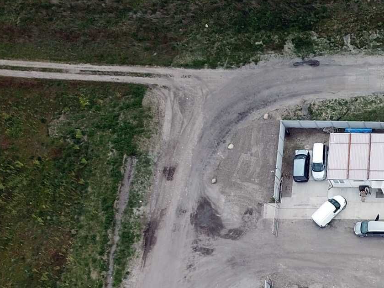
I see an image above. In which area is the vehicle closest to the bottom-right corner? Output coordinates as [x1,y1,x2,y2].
[354,213,384,238]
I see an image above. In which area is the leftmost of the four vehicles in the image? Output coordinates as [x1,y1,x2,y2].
[292,148,310,183]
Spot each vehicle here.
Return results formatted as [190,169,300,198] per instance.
[354,213,384,238]
[292,148,310,183]
[309,145,329,180]
[313,193,349,230]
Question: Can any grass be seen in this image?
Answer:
Yes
